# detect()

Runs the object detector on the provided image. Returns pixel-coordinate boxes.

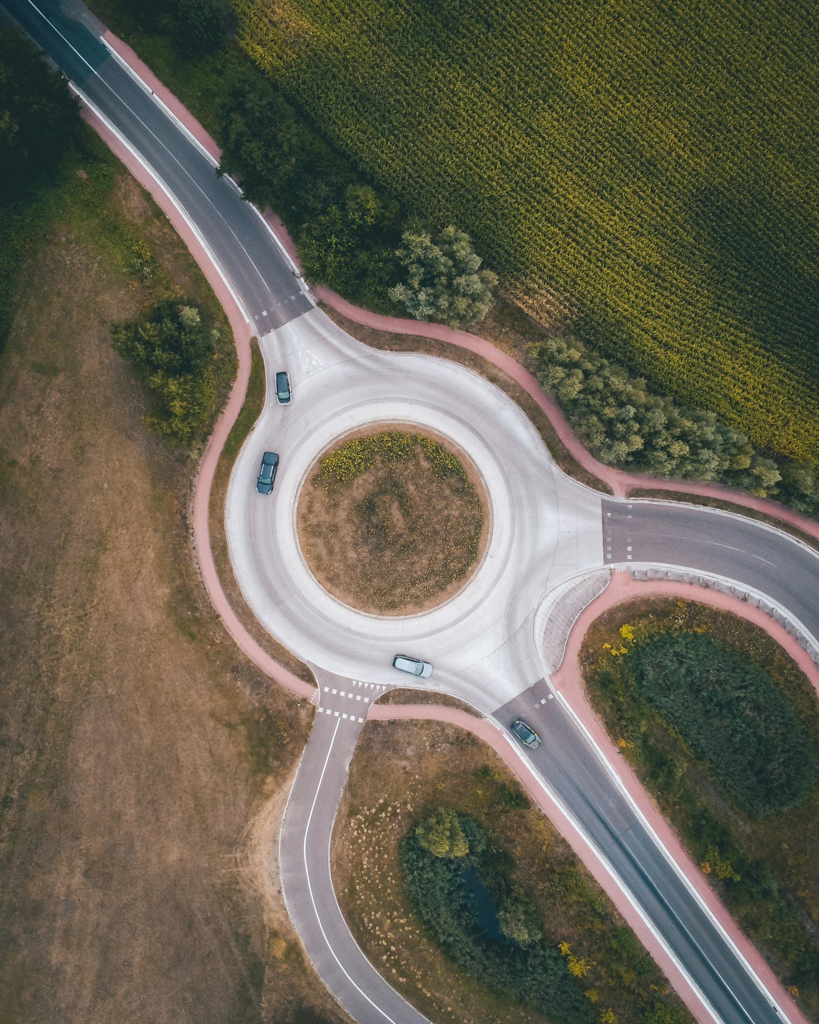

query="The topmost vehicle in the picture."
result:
[273,370,292,406]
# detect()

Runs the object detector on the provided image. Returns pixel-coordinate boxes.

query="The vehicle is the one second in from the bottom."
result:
[392,653,433,678]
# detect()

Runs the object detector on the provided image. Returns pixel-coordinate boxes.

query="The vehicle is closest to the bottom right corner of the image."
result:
[510,718,541,750]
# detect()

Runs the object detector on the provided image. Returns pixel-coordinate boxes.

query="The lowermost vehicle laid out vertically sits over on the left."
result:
[255,451,278,495]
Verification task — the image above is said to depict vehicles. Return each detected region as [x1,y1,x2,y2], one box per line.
[255,451,278,495]
[510,718,541,750]
[392,653,433,678]
[273,370,292,406]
